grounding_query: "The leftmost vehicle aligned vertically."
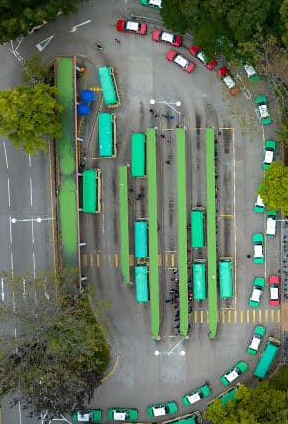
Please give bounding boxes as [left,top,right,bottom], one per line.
[82,166,102,213]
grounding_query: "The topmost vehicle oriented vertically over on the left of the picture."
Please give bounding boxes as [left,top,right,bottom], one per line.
[96,63,122,109]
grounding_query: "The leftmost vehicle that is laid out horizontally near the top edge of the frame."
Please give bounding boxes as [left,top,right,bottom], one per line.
[118,20,148,36]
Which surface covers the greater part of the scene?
paved ground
